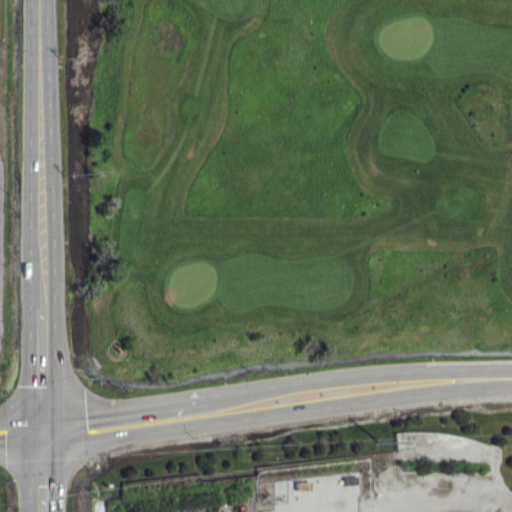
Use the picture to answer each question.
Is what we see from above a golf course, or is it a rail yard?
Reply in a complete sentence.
The picture captures a golf course.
